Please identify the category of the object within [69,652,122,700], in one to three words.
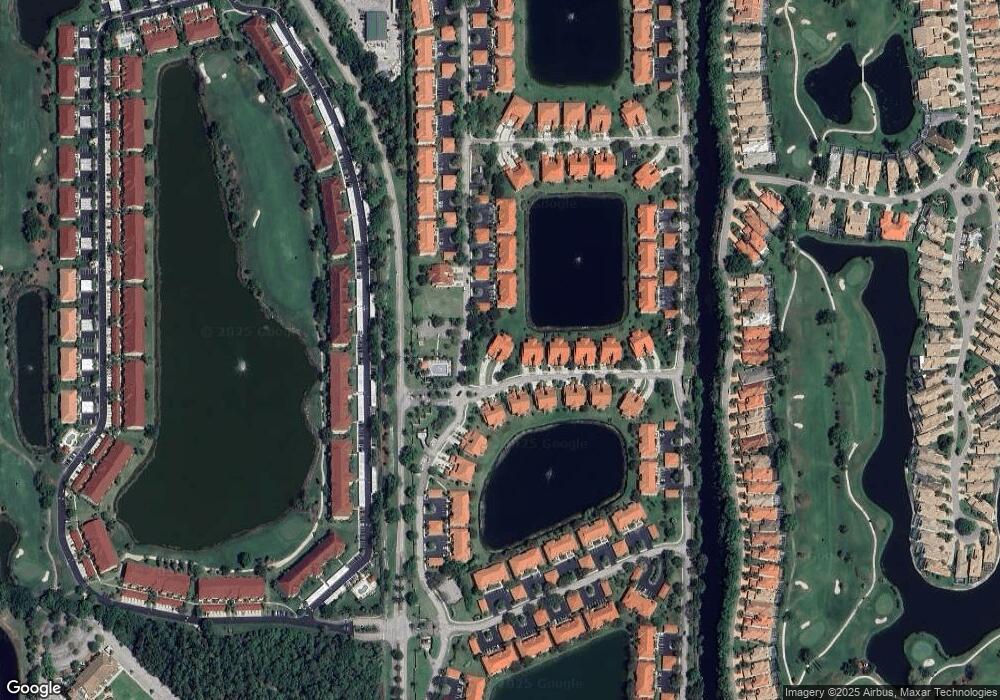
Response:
building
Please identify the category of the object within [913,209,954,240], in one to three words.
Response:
house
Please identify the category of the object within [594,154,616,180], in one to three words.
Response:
house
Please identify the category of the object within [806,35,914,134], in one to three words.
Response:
pond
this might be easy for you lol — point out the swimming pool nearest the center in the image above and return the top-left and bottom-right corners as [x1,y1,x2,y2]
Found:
[420,358,451,376]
